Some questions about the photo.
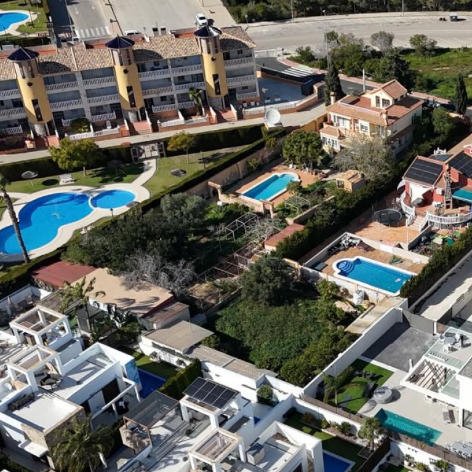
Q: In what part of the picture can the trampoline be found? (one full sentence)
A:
Look in the right portion of the view to spot the trampoline.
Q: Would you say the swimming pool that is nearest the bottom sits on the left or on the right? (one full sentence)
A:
It is on the right.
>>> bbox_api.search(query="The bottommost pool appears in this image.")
[322,449,347,472]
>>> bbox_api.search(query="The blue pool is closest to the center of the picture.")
[241,171,302,201]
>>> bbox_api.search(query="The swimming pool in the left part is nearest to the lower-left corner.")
[137,365,160,400]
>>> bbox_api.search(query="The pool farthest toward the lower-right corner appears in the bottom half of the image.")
[373,405,445,448]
